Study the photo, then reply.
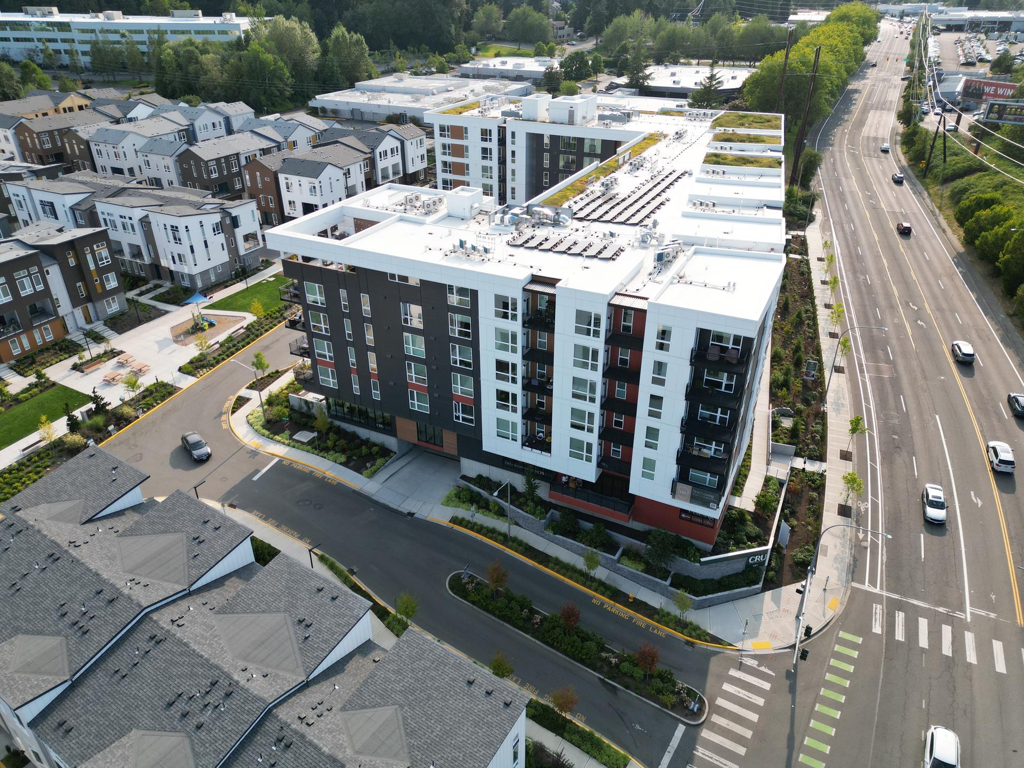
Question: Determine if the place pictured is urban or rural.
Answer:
urban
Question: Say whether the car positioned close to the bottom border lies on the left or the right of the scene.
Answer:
right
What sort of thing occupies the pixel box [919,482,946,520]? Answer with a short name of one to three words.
car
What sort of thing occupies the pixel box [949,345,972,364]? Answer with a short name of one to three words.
car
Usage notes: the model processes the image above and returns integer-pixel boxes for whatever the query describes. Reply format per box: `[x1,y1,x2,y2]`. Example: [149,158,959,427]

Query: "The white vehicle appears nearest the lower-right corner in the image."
[922,721,958,768]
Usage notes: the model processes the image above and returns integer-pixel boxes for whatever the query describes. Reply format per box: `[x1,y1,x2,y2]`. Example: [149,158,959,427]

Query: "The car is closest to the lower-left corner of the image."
[179,432,210,462]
